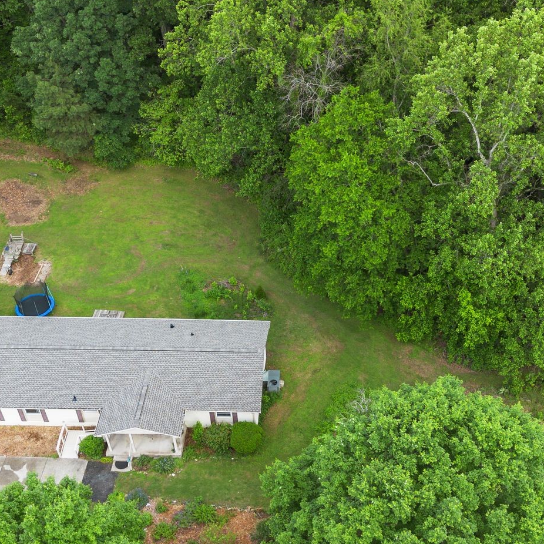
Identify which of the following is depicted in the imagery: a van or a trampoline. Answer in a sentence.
I can see a trampoline in this picture.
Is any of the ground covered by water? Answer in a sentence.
No, there's no water in this view.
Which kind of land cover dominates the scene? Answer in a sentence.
The largest share of the image is taken up by trees.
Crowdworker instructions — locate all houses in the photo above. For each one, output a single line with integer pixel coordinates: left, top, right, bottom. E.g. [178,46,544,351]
[0,314,270,474]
